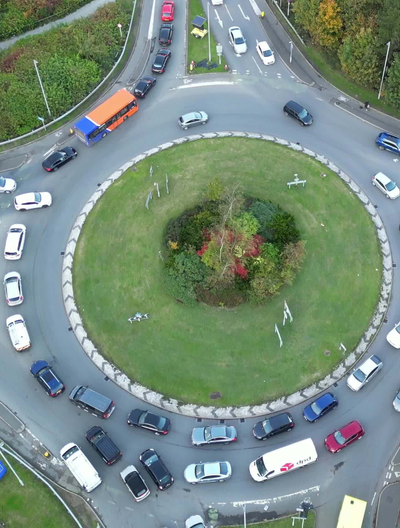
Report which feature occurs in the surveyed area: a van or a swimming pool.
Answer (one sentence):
Looking from above, you can make out a van.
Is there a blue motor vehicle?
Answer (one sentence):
Yes, I can see a blue motor vehicle in this picture.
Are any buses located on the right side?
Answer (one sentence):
Yes, you'll find a bus on the right side.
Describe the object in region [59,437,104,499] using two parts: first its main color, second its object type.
white van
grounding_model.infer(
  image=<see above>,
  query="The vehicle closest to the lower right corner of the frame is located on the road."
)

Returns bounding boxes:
[340,496,372,528]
